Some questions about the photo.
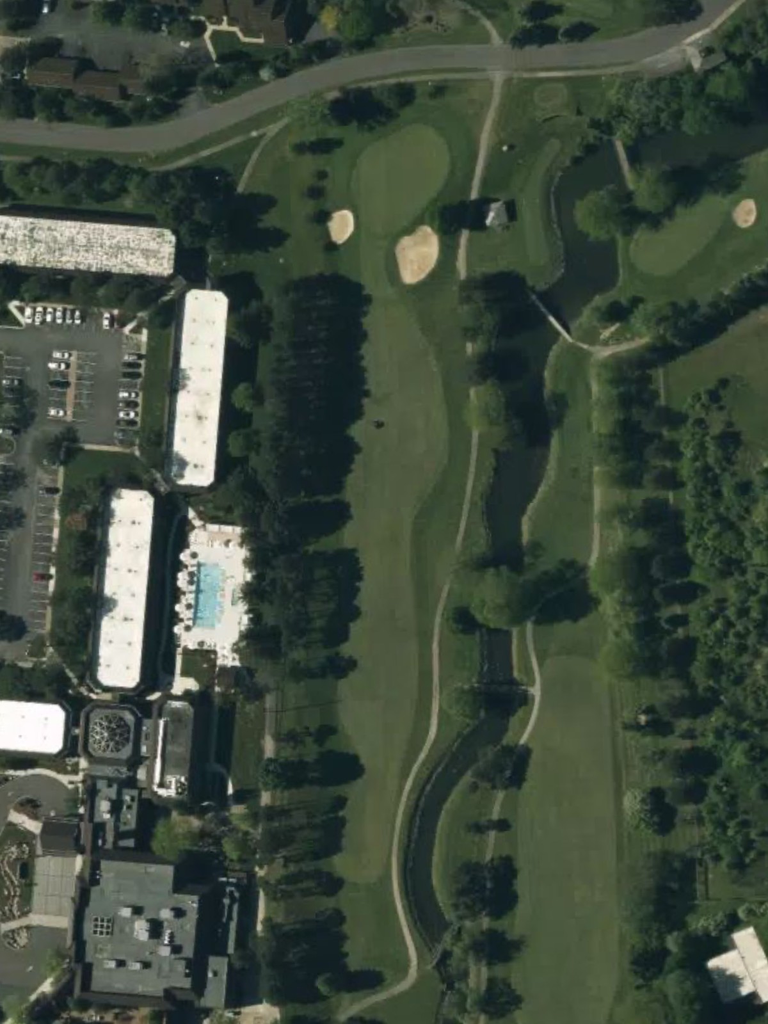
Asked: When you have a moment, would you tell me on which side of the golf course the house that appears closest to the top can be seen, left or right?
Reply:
on the left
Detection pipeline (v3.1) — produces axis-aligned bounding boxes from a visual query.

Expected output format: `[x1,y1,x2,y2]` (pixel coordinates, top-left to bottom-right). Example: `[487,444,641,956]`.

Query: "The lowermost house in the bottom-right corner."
[707,925,768,1004]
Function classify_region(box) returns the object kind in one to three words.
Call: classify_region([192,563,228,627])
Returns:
swimming pool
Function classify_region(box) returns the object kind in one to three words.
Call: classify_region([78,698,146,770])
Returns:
building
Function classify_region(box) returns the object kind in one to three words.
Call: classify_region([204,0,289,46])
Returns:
house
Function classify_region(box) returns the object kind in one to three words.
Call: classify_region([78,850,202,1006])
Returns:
building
